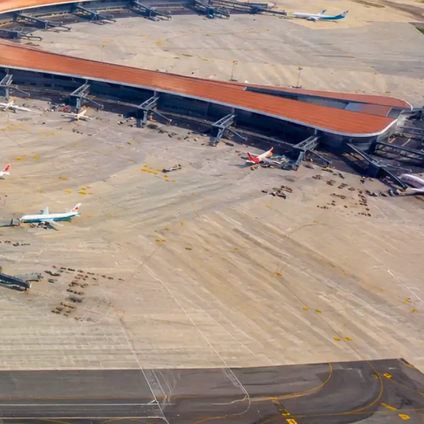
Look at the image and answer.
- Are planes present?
Yes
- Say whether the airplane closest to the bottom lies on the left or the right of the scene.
left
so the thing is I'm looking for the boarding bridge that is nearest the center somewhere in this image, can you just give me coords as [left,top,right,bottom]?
[210,117,251,150]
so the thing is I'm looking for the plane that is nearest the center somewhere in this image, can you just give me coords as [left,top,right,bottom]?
[232,144,286,164]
